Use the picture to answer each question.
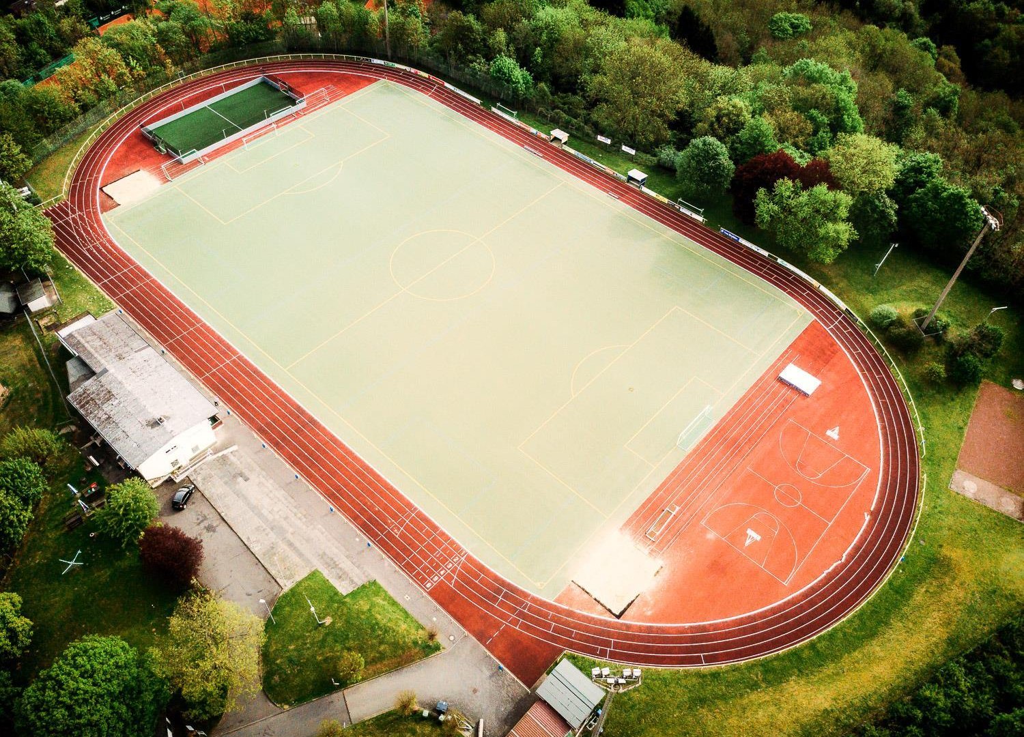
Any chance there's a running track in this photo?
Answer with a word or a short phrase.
Yes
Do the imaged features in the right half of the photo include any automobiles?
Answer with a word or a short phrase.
No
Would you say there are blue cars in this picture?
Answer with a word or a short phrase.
No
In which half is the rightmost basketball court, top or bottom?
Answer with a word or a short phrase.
bottom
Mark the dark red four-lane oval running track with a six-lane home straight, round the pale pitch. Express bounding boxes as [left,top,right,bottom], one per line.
[40,59,917,691]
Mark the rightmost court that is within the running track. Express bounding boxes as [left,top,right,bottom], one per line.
[699,418,871,584]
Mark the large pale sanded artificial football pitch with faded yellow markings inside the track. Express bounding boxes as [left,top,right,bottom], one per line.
[103,79,816,597]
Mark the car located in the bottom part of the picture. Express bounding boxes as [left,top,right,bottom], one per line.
[166,480,196,510]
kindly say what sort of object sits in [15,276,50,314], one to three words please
shed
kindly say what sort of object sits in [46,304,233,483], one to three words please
building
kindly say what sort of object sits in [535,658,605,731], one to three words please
shed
